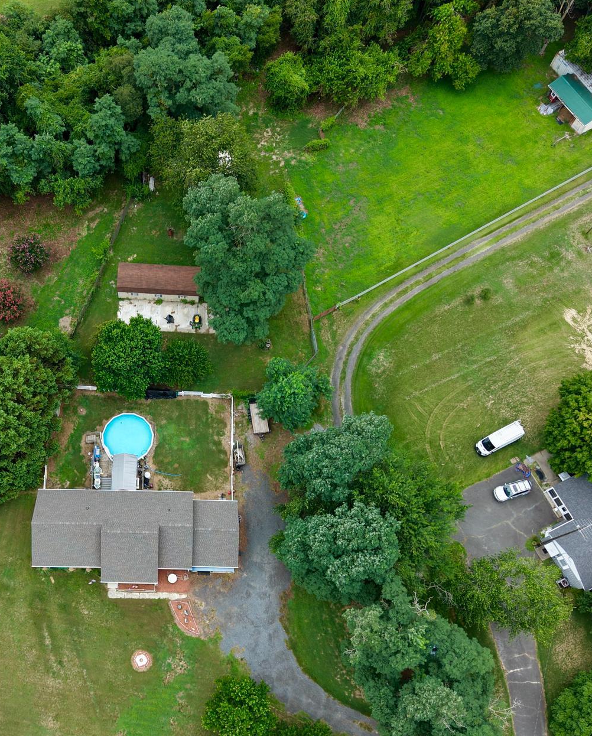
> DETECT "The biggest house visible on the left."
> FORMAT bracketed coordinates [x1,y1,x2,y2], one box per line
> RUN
[32,489,239,586]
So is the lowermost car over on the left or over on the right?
right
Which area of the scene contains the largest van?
right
